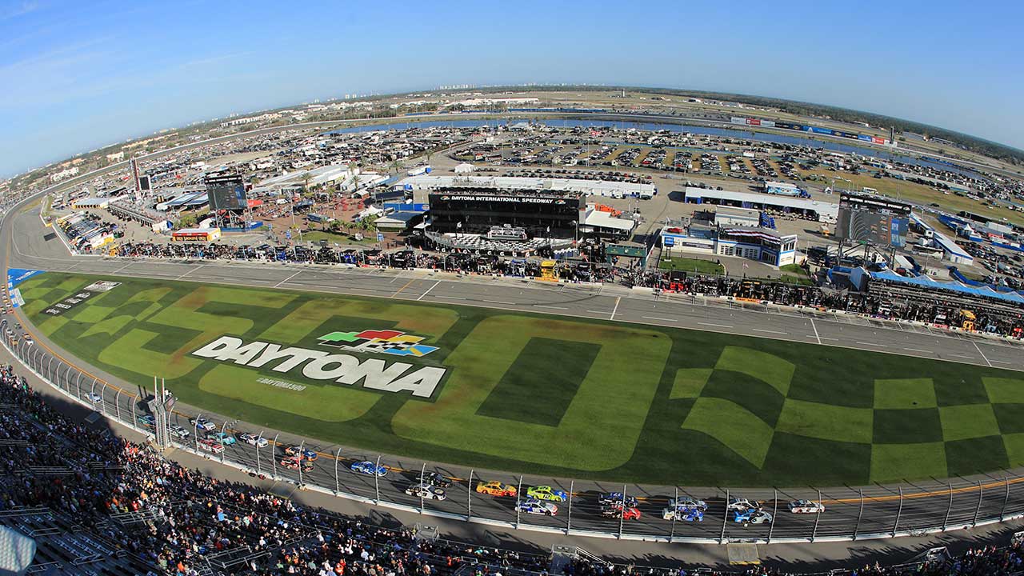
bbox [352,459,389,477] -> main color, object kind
blue car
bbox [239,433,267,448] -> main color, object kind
white car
